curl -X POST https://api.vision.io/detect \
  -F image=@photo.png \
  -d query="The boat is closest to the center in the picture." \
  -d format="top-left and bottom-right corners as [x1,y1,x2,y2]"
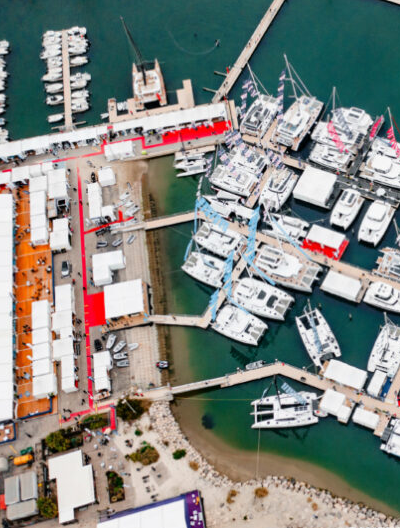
[183,238,229,289]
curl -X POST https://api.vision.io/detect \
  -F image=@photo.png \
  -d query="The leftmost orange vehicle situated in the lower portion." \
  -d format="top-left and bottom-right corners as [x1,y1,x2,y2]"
[10,452,34,467]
